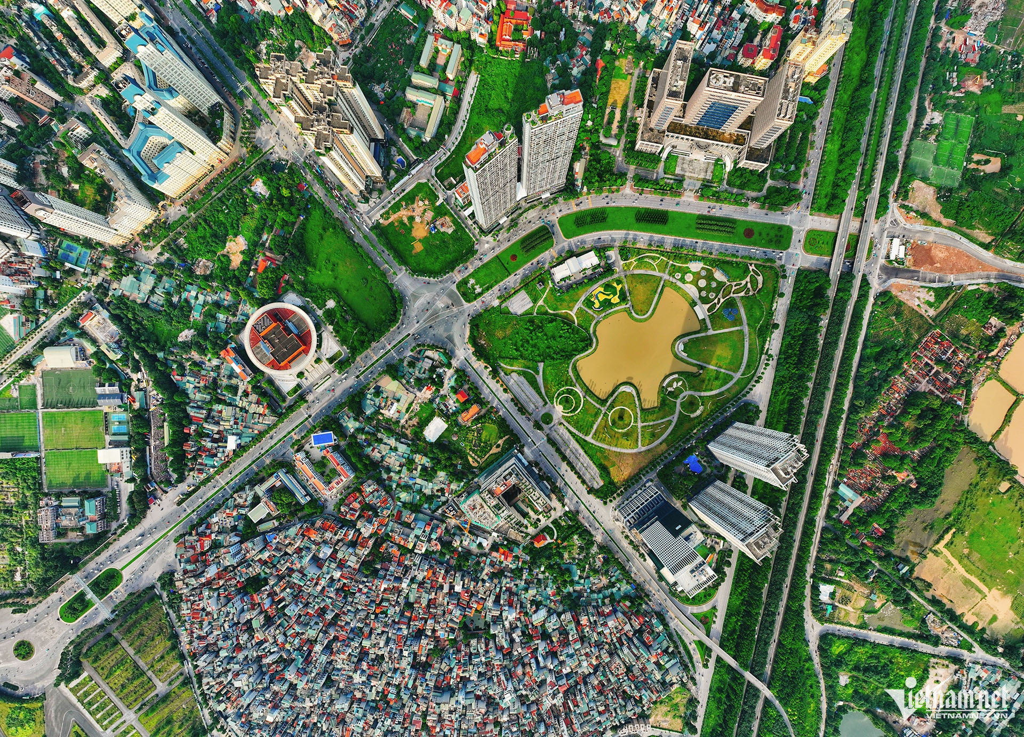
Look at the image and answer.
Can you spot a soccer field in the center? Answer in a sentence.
No, no soccer field can be made out in the center.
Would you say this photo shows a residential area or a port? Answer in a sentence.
The area seen from above is a residential area.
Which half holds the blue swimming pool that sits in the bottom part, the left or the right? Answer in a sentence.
It is on the right.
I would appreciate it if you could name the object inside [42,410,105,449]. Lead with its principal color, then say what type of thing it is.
green soccer field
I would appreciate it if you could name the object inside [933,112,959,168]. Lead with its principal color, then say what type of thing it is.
green soccer field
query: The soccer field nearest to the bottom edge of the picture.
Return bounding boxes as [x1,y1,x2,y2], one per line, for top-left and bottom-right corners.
[45,450,107,489]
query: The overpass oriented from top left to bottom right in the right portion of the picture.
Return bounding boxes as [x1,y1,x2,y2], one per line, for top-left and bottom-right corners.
[611,538,796,737]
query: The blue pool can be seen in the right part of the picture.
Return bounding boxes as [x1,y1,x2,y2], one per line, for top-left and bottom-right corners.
[683,453,703,474]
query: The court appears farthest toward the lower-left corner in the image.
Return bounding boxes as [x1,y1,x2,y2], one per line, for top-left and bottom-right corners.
[107,412,129,435]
